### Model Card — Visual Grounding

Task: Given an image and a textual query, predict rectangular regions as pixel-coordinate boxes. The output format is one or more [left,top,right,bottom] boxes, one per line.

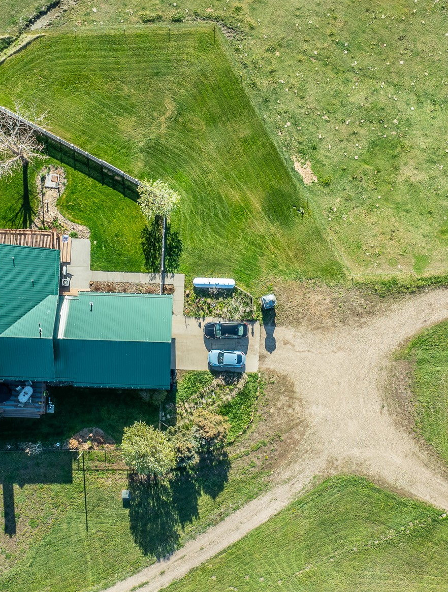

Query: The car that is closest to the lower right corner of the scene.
[208,350,245,369]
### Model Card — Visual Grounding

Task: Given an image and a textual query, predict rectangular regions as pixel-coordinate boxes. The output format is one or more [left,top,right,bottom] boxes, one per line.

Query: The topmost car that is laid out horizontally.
[204,321,248,340]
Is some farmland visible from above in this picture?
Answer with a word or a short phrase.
Yes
